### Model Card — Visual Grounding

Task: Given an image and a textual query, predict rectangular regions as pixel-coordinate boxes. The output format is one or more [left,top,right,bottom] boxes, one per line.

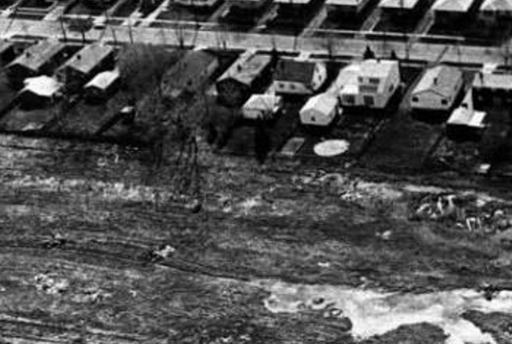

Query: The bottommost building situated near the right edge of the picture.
[448,109,491,136]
